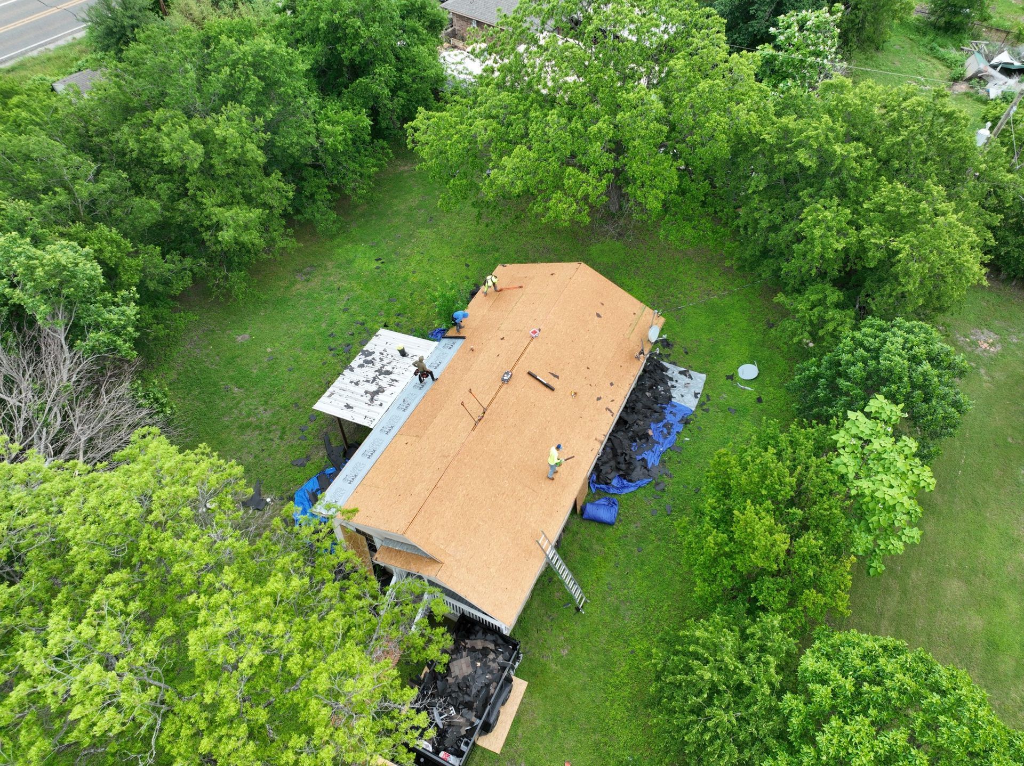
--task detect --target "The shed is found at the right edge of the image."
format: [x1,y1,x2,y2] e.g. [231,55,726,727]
[964,50,1024,98]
